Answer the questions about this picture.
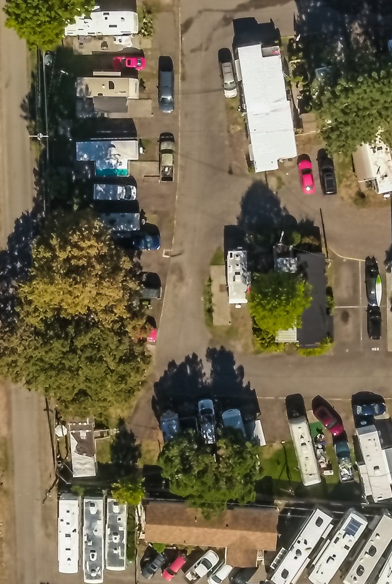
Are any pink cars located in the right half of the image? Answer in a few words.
Yes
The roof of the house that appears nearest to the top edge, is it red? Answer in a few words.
No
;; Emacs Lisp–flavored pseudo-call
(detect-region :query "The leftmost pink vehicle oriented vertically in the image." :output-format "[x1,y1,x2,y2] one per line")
[296,160,314,195]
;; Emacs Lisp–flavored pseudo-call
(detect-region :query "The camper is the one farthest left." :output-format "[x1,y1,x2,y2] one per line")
[59,486,82,573]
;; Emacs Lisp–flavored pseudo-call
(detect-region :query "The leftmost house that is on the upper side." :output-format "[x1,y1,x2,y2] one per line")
[235,44,296,172]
